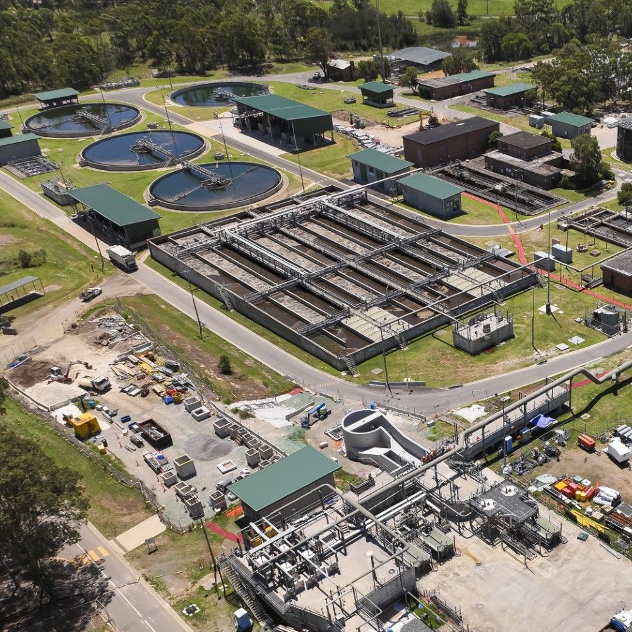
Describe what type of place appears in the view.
industrial area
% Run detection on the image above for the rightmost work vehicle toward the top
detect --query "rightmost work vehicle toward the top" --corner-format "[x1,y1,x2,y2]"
[412,103,443,125]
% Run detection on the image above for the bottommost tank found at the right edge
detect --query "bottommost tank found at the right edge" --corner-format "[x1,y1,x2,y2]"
[581,294,632,333]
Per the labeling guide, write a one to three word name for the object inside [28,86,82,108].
shed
